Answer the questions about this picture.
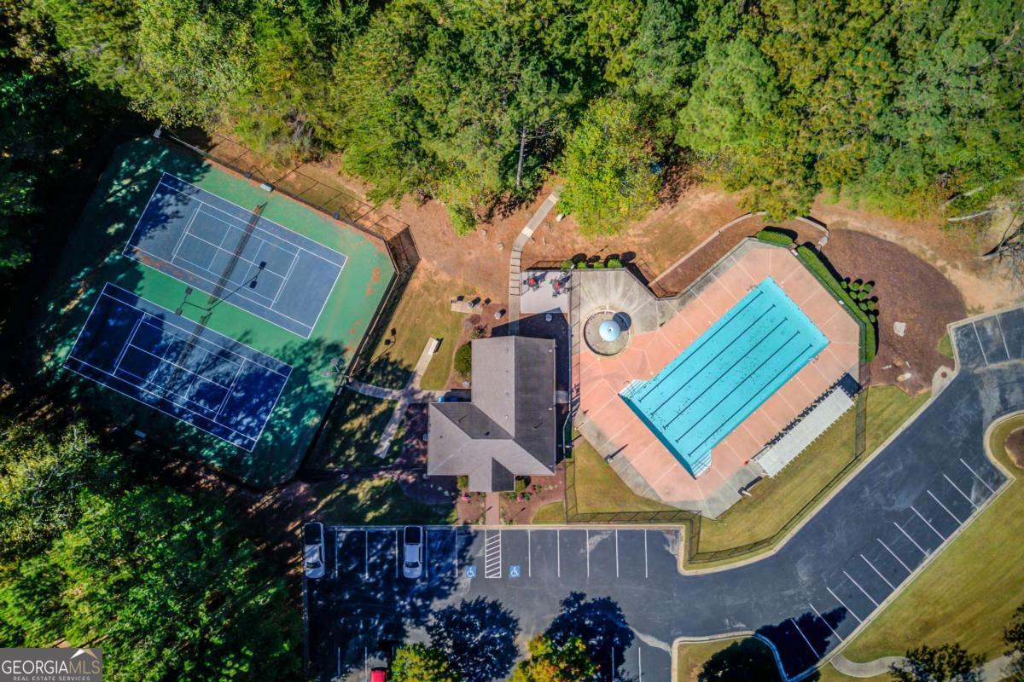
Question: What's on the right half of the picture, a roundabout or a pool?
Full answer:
There is a pool on the right half of the picture.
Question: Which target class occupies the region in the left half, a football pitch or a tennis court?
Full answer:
It is a tennis court that can be seen in the left half.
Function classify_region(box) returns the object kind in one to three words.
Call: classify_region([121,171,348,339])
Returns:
tennis court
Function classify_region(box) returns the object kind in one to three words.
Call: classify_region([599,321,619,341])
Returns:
fountain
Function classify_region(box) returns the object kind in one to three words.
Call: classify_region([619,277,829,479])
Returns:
swimming pool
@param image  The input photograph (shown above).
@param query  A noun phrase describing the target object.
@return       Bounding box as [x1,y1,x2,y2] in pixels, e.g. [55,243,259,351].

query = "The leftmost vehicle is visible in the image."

[301,523,324,580]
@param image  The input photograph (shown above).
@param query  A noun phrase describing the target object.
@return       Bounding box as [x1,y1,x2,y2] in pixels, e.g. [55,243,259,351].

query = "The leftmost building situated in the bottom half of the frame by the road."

[427,336,556,492]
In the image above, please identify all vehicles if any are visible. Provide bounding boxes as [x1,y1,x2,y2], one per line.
[301,523,324,580]
[402,525,423,581]
[369,668,386,682]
